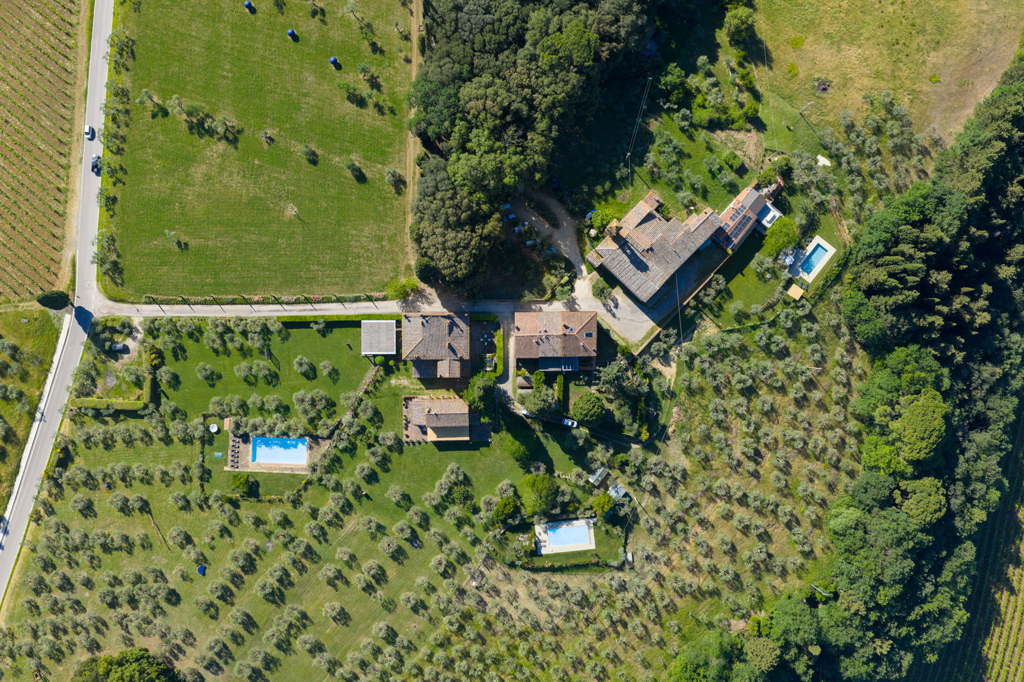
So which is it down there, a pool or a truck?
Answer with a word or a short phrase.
pool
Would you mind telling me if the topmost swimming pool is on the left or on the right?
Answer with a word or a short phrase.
right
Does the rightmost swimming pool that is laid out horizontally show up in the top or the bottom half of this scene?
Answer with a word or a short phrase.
bottom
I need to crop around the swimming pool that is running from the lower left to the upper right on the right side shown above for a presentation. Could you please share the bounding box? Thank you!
[798,242,830,276]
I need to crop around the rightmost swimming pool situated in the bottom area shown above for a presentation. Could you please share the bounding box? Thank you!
[547,524,591,548]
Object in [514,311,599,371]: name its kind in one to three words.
house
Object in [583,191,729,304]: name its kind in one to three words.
house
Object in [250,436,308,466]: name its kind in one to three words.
swimming pool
